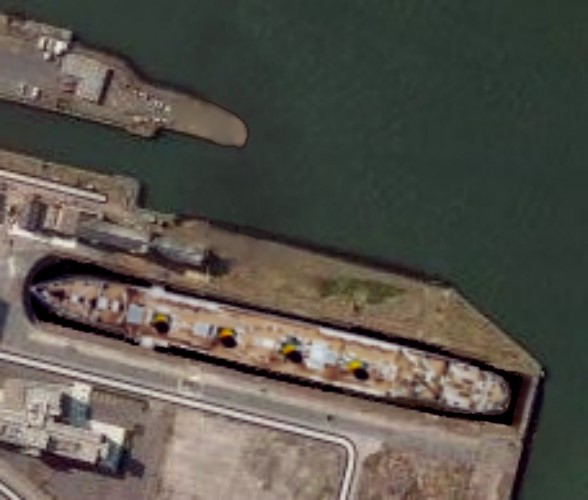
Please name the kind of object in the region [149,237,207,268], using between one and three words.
shed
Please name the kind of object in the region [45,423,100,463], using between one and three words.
building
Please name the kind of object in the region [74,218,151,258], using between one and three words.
shed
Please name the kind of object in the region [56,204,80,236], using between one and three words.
building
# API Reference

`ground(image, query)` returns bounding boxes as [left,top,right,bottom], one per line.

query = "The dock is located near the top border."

[0,10,248,146]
